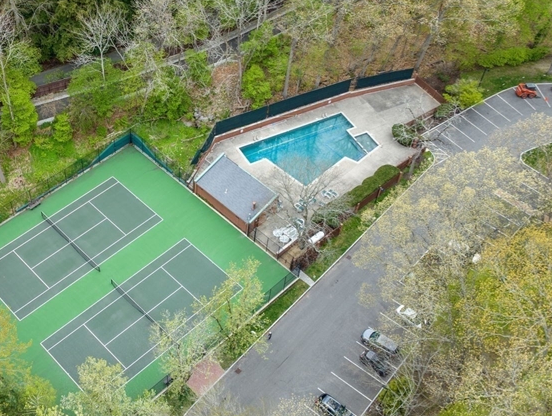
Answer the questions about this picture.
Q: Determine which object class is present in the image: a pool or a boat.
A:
pool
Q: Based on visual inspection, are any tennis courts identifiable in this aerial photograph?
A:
Yes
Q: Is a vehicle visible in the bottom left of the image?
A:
No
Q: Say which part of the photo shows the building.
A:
center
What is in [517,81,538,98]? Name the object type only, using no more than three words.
work vehicle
